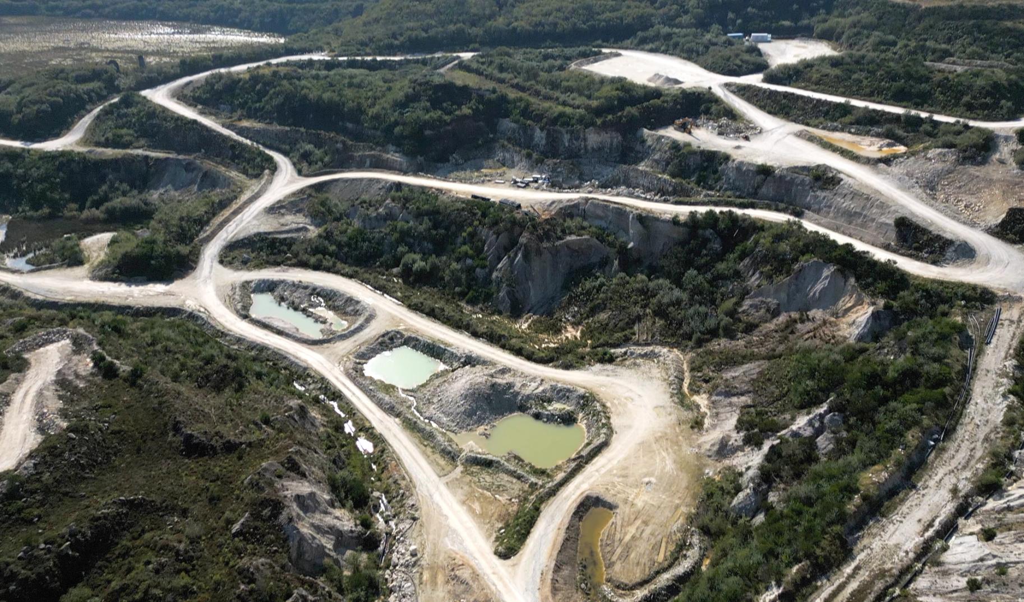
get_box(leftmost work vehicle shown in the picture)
[675,121,697,134]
